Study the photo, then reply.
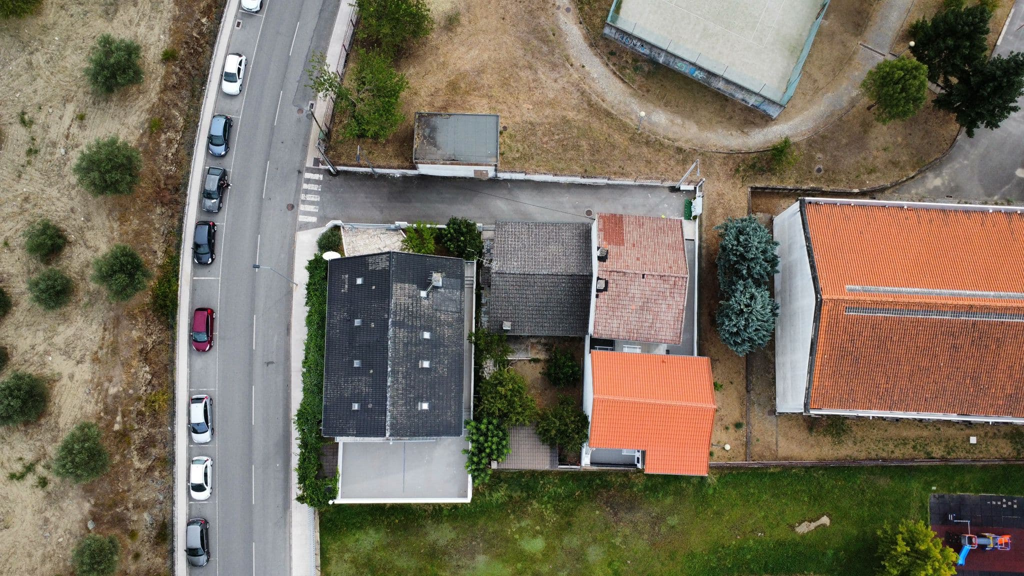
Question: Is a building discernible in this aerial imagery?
Yes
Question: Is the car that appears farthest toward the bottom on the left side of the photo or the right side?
left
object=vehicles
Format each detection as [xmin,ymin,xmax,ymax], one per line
[190,308,216,351]
[244,0,264,12]
[188,395,215,444]
[221,54,248,96]
[202,168,228,212]
[188,455,214,501]
[207,115,234,157]
[192,221,218,265]
[183,516,212,568]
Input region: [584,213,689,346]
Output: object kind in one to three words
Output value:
house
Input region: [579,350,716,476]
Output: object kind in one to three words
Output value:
house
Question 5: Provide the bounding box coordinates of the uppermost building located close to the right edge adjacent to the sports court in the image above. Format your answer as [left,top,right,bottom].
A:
[776,196,1024,428]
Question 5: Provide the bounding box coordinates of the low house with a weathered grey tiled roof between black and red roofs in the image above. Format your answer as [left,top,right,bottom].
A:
[481,220,593,337]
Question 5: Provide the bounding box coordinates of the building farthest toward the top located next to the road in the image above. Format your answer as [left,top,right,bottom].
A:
[415,113,499,175]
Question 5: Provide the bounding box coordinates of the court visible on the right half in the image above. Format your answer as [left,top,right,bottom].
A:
[603,0,835,119]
